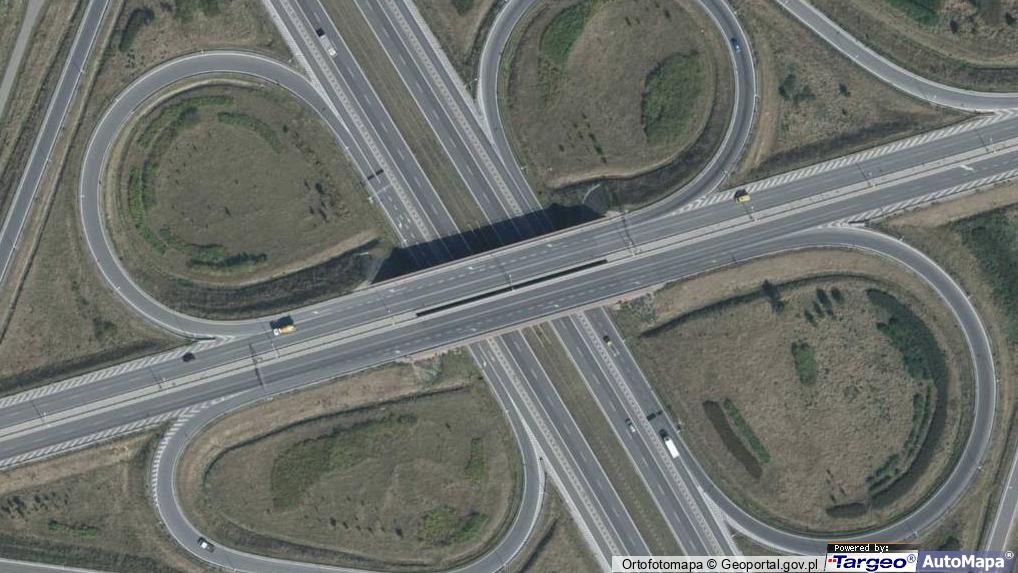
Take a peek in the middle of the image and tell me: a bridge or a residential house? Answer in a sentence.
What appears in the middle of the image is a bridge.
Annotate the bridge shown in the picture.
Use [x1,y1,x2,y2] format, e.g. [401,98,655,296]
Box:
[322,208,666,362]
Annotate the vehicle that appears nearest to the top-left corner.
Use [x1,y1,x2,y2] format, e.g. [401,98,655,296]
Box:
[320,34,336,56]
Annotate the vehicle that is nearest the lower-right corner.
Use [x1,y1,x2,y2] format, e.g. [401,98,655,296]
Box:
[661,434,679,456]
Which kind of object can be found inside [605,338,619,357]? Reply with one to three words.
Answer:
vehicle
